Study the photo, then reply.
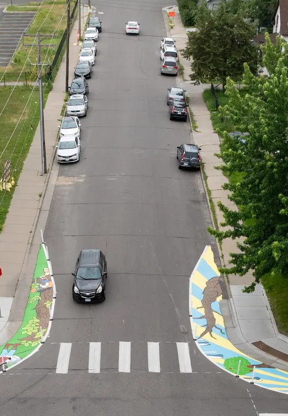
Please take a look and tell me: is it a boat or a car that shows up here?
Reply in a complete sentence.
Looking from above, you can make out a car.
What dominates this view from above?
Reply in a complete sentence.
The scene is dominated by paved ground.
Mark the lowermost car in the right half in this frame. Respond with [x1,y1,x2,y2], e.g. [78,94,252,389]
[173,138,201,167]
